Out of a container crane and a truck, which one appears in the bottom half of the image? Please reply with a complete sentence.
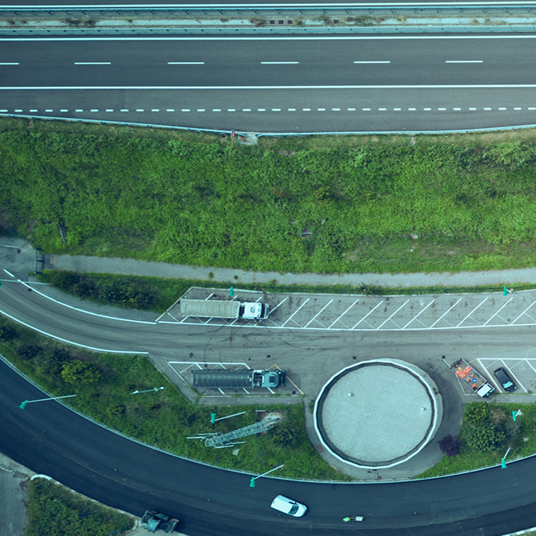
The one visible in the bottom half of the image is a truck.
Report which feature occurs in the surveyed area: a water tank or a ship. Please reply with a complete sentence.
The image shows a water tank.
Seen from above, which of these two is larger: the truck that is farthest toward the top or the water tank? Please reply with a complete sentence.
The water tank is bigger than the truck.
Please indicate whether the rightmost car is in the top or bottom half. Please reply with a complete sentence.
It is in the bottom half that the rightmost car appears.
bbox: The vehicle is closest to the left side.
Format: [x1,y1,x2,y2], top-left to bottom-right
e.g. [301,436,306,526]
[138,510,181,536]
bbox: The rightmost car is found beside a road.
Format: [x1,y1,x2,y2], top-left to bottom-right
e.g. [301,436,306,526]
[494,368,515,395]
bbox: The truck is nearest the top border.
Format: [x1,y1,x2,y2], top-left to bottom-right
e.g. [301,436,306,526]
[174,300,273,325]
